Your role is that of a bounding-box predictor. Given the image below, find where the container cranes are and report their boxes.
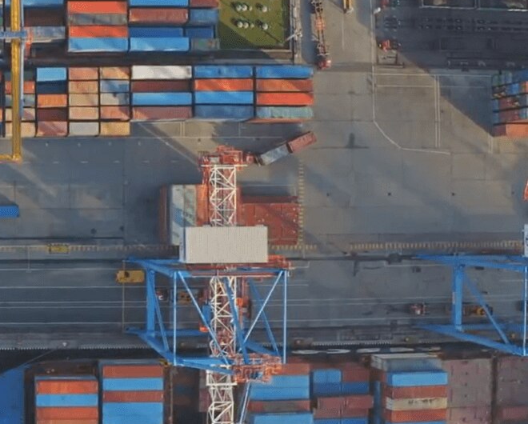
[0,0,37,165]
[118,141,294,424]
[402,225,528,369]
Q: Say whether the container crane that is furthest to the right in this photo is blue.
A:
Yes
